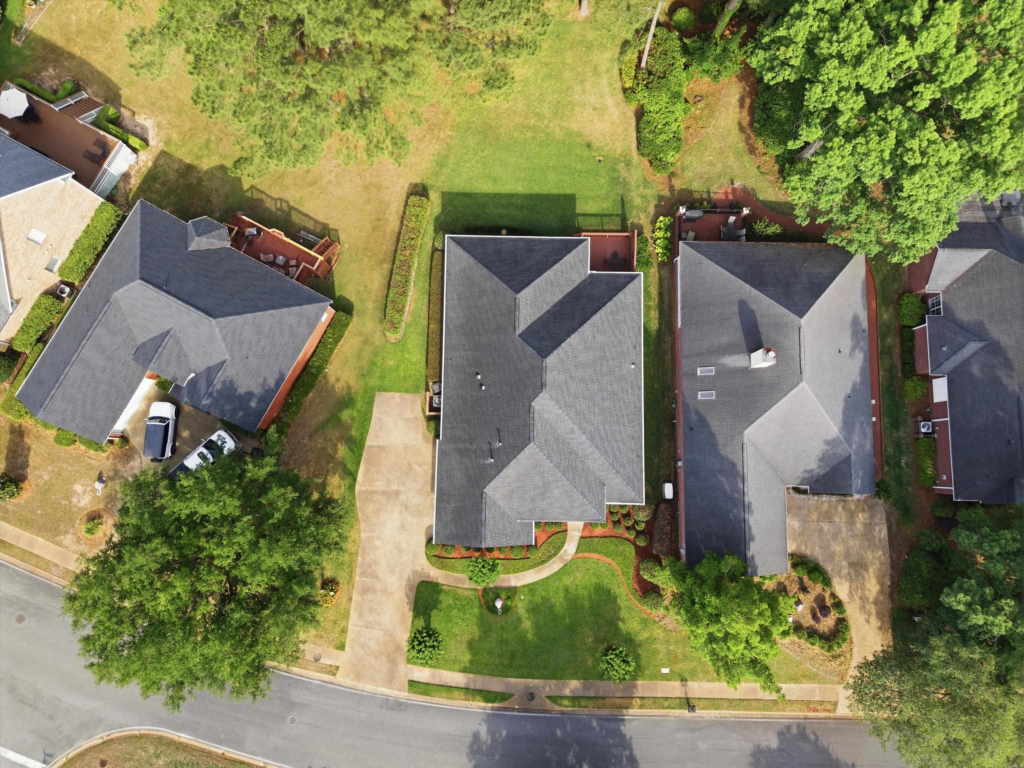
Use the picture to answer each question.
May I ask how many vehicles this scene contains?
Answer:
two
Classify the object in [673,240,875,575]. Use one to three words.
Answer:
house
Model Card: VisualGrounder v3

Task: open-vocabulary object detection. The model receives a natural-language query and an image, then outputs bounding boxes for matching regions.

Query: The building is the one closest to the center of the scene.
[432,234,645,548]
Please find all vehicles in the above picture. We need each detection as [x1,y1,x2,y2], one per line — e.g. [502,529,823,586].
[164,424,241,489]
[144,398,181,460]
